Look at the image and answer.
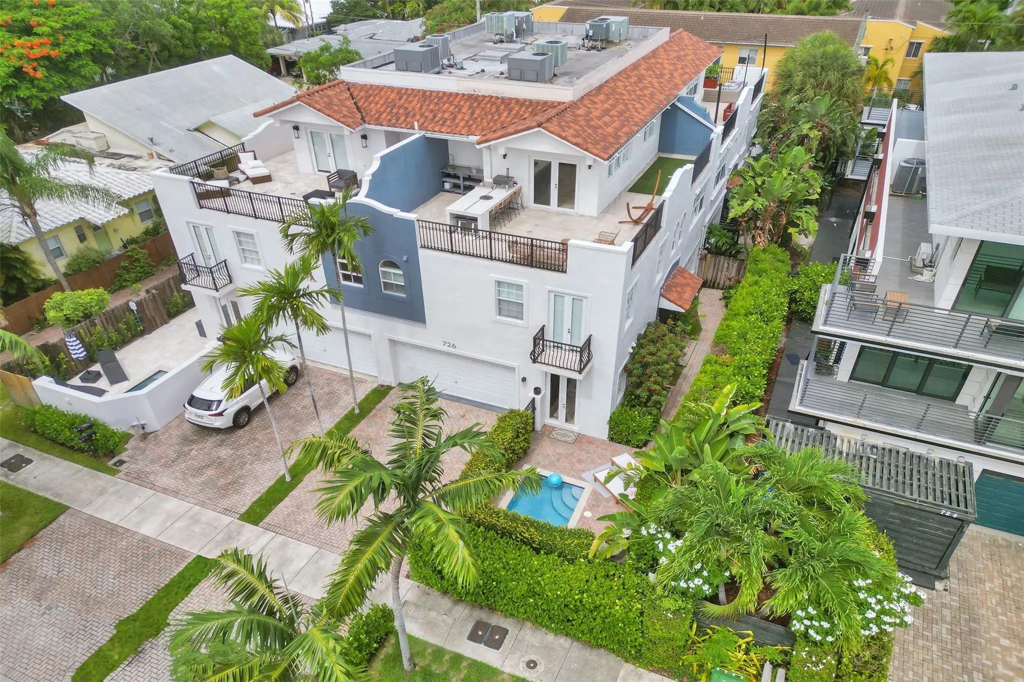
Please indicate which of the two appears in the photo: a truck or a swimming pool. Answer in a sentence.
The one in the frame is a swimming pool.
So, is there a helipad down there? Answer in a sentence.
No, there isn't any helipad down there.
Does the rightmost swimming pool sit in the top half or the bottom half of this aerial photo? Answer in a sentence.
You can find the rightmost swimming pool in the bottom half.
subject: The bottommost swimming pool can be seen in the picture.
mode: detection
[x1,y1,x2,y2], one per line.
[496,464,589,539]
